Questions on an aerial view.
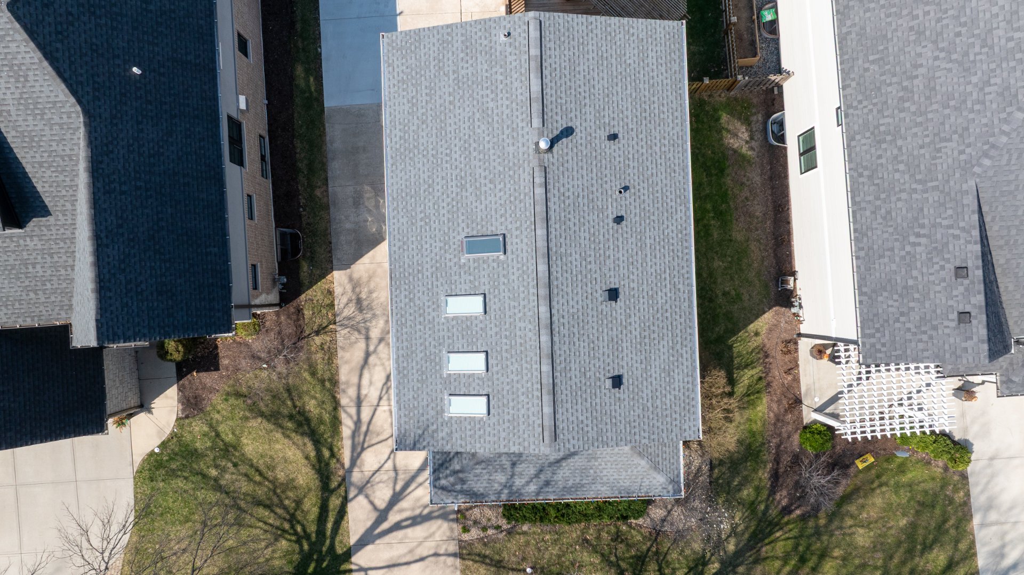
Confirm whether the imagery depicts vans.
No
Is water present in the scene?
No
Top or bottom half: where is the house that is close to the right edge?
top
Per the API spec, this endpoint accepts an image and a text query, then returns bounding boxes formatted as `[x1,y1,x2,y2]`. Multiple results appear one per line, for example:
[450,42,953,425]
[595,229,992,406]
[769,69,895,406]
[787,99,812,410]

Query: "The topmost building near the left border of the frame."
[0,0,291,352]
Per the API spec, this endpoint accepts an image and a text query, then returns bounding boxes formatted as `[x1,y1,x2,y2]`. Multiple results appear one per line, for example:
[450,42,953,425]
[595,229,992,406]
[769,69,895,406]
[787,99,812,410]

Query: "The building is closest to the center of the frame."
[381,14,702,513]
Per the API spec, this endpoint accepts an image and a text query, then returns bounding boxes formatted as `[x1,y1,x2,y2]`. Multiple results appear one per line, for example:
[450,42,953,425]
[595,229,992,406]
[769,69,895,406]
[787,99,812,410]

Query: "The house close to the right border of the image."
[780,0,1024,399]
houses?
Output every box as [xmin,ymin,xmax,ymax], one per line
[0,0,291,352]
[780,0,1024,399]
[381,14,702,513]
